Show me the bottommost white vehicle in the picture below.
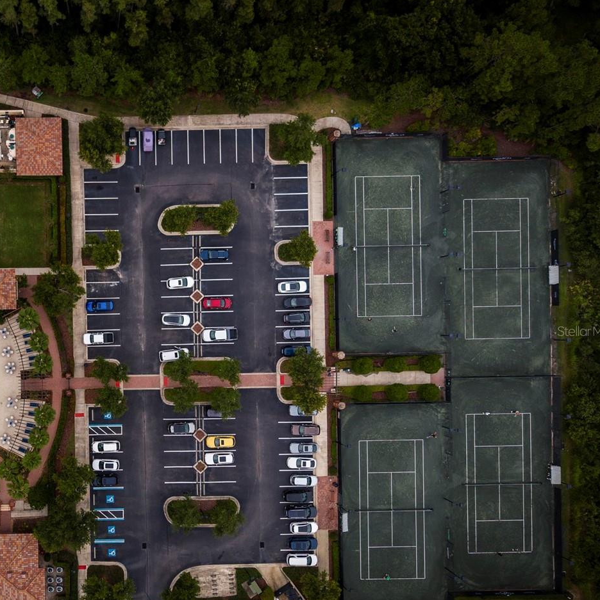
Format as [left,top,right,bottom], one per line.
[285,552,317,567]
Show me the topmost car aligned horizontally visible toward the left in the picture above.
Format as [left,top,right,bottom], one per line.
[200,247,228,261]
